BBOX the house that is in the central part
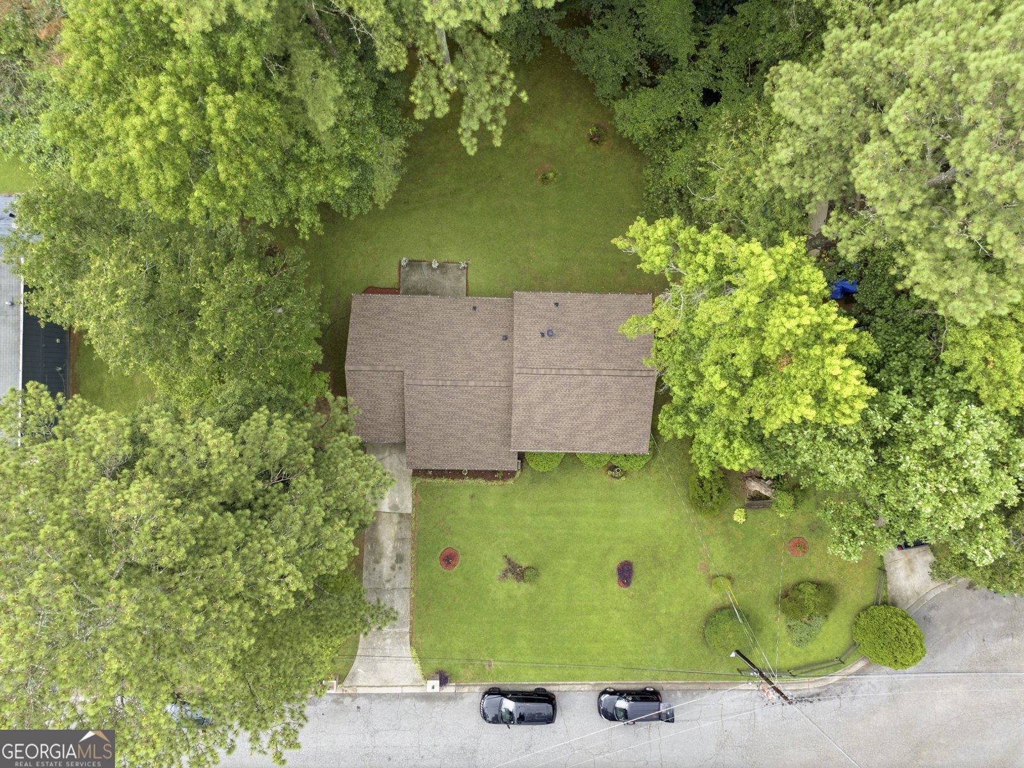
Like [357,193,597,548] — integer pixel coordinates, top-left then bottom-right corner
[344,289,656,473]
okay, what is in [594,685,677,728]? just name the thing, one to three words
car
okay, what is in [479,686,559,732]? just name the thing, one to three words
car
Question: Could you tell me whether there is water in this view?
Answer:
No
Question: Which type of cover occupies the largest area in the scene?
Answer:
trees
